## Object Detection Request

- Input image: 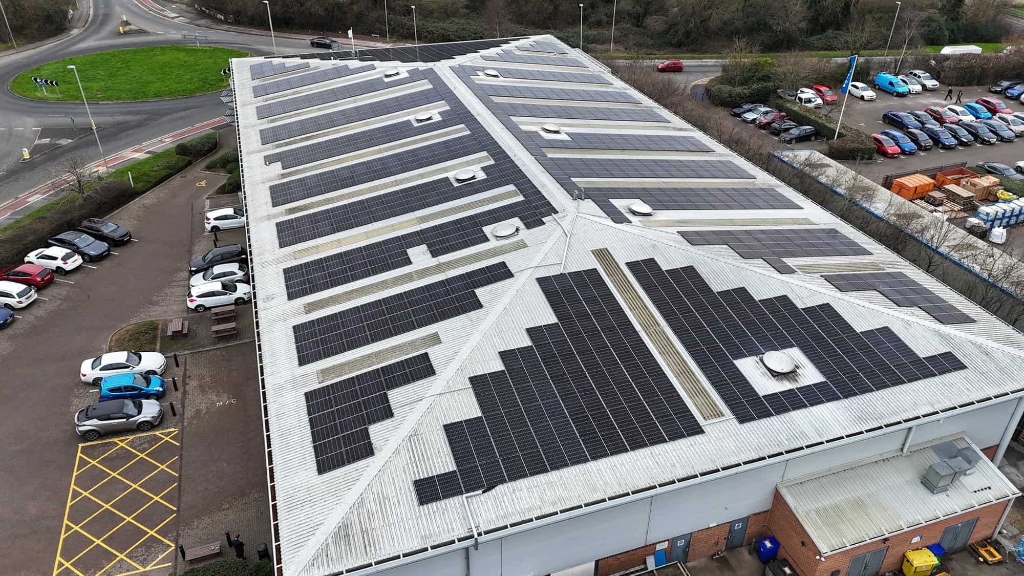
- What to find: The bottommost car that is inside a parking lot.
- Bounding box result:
[76,398,158,441]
